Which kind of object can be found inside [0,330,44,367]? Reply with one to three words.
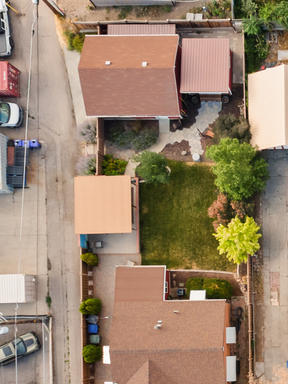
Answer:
car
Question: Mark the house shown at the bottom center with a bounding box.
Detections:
[103,266,236,384]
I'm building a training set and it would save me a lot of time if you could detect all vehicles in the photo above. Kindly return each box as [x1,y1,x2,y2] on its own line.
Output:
[0,330,44,367]
[0,0,15,60]
[0,100,25,129]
